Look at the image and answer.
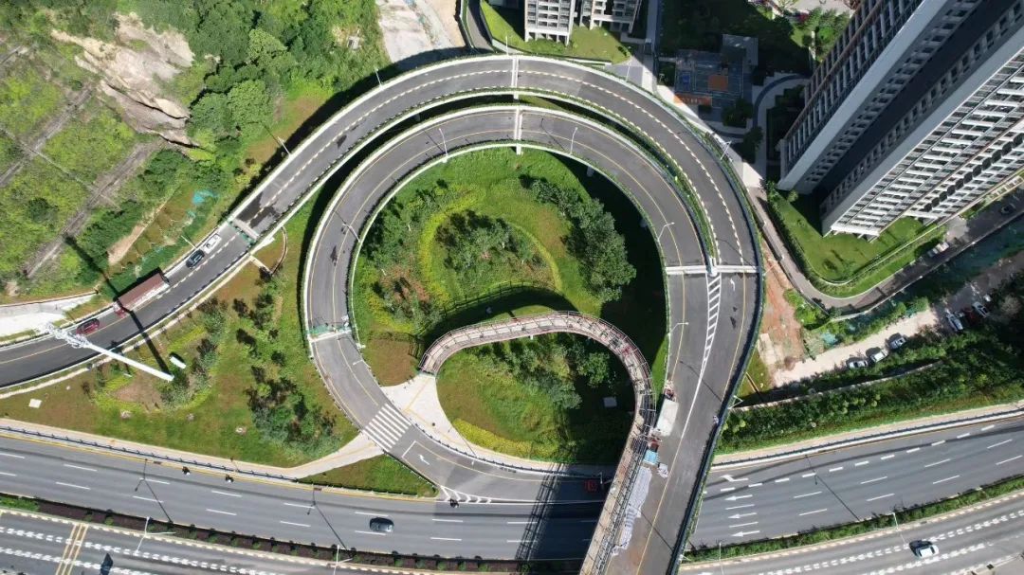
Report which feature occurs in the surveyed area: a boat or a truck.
truck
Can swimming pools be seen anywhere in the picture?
No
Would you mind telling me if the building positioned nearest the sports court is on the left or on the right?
right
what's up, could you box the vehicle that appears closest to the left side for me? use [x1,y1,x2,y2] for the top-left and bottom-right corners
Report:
[75,317,98,332]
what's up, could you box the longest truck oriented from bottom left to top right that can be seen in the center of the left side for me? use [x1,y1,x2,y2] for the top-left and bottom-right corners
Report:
[108,273,166,318]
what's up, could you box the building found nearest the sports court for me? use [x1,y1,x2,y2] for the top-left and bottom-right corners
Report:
[725,26,762,60]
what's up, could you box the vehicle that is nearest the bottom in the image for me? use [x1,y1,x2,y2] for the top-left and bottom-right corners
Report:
[914,542,939,556]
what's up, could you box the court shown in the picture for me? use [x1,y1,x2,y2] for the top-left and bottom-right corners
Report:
[673,55,747,111]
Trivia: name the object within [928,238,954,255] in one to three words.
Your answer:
vehicle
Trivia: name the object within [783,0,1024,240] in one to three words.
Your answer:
building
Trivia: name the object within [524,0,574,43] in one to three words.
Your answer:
building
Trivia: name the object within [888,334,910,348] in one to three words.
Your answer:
car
